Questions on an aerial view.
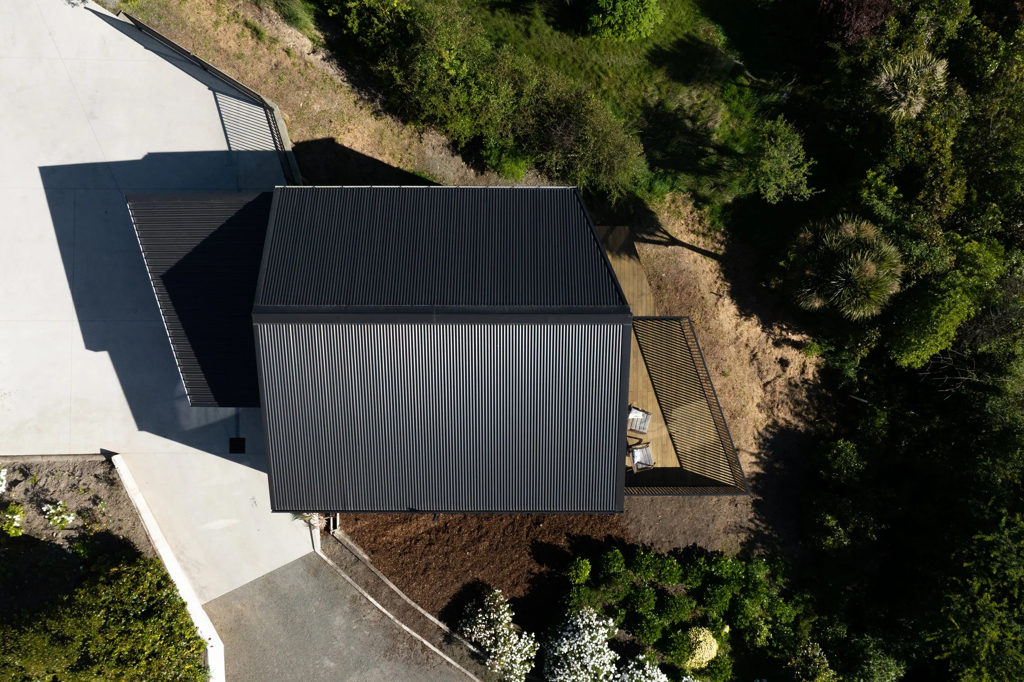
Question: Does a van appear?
No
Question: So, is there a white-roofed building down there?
No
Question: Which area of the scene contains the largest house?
center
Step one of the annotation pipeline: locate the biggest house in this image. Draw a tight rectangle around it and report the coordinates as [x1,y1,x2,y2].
[252,185,633,514]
